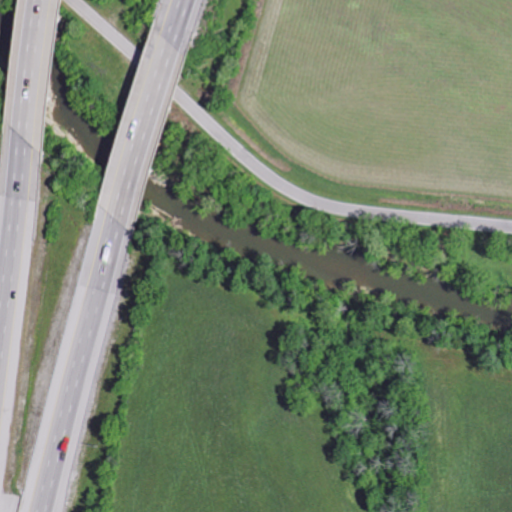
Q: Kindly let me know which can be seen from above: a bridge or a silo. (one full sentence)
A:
This aerial view contains a bridge.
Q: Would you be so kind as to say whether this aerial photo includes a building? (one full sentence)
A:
No, the picture doesn't show any building.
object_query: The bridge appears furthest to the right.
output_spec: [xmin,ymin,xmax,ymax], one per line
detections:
[96,20,186,238]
